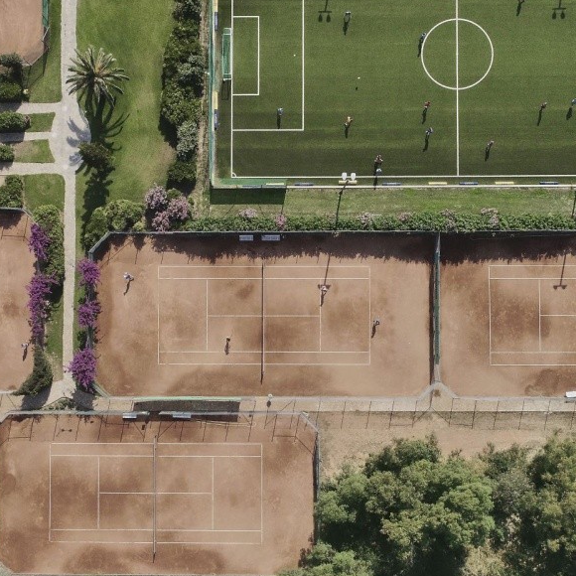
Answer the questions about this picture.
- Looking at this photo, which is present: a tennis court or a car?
tennis court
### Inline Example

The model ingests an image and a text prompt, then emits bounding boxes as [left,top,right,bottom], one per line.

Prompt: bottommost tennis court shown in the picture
[0,413,315,575]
